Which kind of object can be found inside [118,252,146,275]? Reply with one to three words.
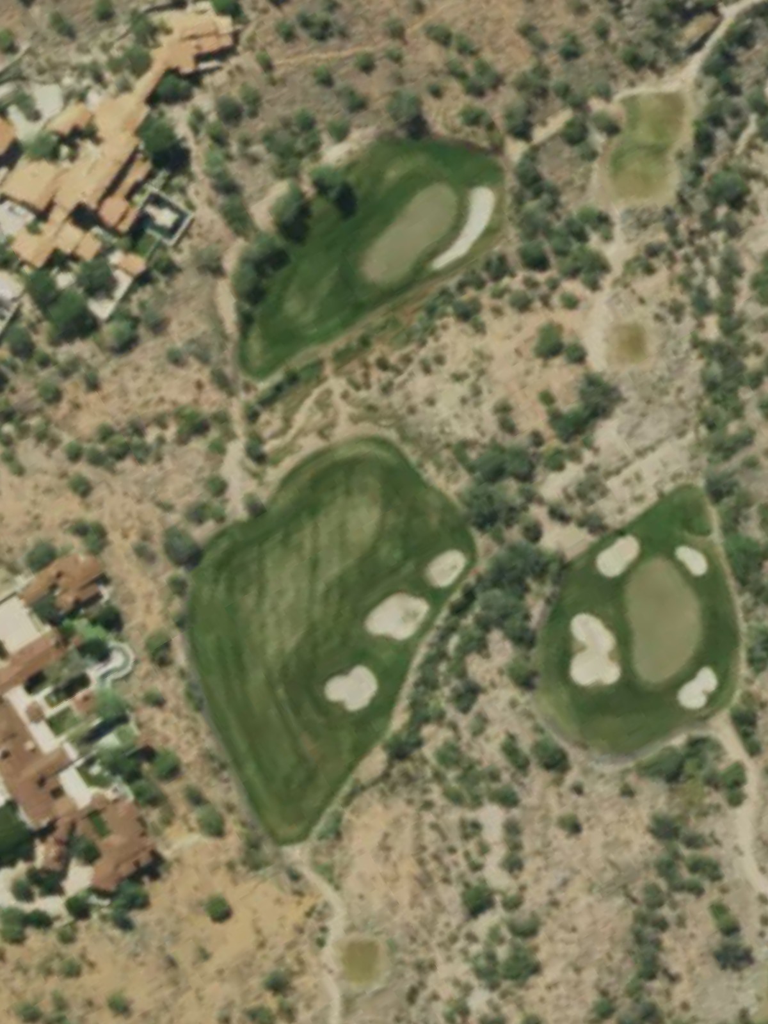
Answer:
house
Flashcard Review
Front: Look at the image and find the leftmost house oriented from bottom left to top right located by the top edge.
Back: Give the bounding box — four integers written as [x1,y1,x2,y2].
[0,1,234,269]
